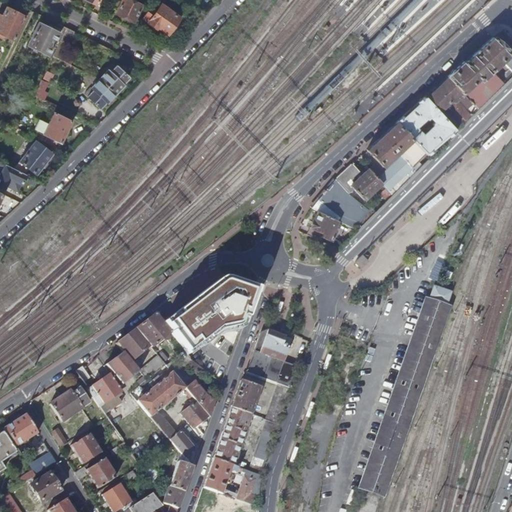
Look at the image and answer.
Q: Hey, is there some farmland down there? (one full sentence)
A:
No, the picture contains no farmland.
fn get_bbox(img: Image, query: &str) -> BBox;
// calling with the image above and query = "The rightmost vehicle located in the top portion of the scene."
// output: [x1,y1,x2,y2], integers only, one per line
[483,126,510,152]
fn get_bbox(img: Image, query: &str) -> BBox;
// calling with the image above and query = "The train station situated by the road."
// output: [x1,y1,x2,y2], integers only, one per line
[302,0,485,120]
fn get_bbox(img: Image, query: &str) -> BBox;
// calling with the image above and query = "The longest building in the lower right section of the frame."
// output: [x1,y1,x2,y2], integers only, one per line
[359,297,452,497]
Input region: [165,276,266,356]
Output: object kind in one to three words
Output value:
building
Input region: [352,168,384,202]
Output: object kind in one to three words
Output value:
house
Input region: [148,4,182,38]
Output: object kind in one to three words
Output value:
house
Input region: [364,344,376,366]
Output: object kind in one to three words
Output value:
vehicle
